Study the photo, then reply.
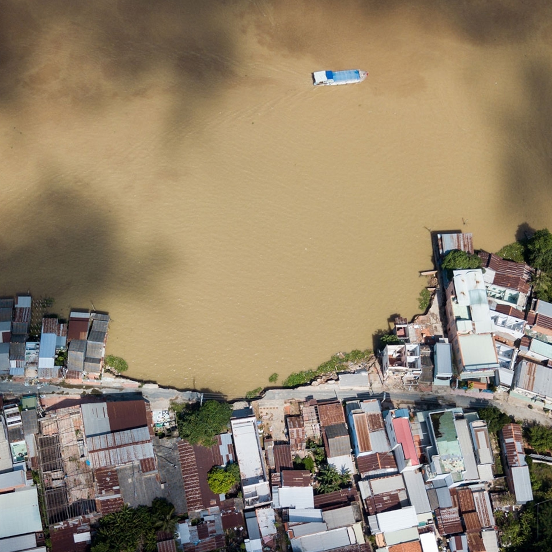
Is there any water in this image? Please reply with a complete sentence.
Yes, the picture does contain water.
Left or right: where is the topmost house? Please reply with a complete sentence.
The topmost house appears in the right half of the scene.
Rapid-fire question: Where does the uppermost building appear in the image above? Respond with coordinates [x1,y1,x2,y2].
[433,233,474,256]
